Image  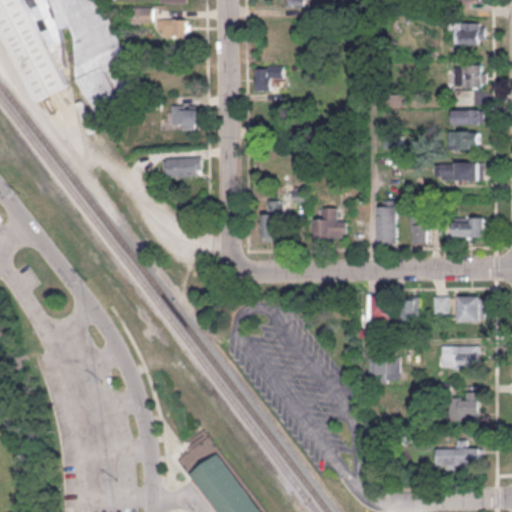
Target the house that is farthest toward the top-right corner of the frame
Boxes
[444,24,488,46]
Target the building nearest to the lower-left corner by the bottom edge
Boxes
[190,454,263,512]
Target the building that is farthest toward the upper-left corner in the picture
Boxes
[0,0,74,104]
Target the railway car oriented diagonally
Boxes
[160,296,188,331]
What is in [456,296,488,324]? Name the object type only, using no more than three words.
house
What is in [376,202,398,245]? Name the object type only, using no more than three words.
house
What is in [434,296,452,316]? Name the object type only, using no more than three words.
building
